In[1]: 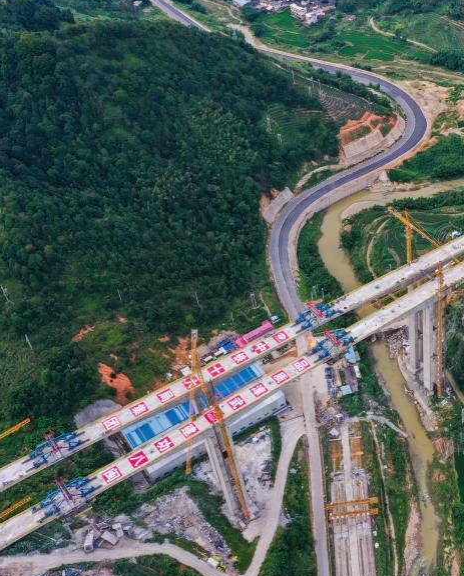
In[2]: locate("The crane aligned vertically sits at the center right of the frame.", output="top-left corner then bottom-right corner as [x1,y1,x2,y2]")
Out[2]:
[433,265,445,398]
